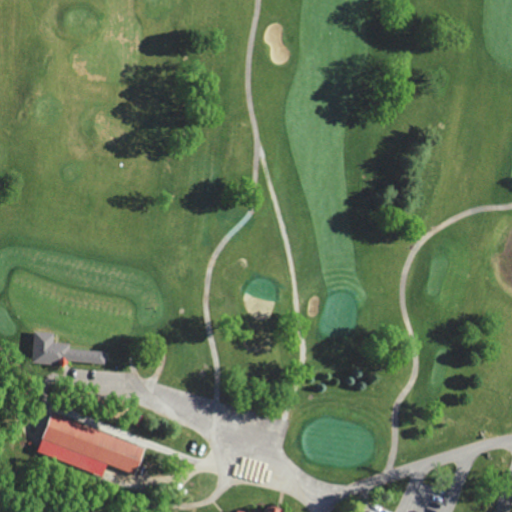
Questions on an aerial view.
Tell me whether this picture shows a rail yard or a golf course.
golf course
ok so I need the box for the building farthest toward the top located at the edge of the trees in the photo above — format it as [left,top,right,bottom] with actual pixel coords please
[32,330,106,368]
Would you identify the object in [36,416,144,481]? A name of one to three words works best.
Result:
barn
